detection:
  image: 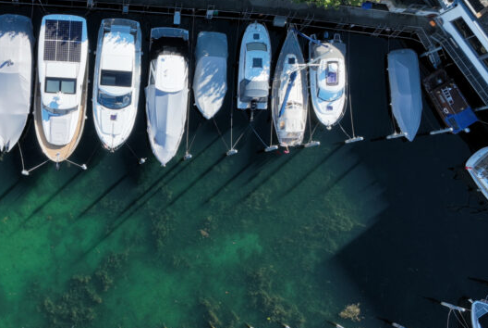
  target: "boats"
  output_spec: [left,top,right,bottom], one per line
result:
[188,14,231,155]
[142,11,193,171]
[26,0,93,172]
[307,24,349,142]
[422,66,481,137]
[380,31,424,142]
[268,21,333,152]
[464,150,488,203]
[231,20,271,149]
[86,5,146,165]
[0,0,36,171]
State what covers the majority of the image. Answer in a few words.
water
